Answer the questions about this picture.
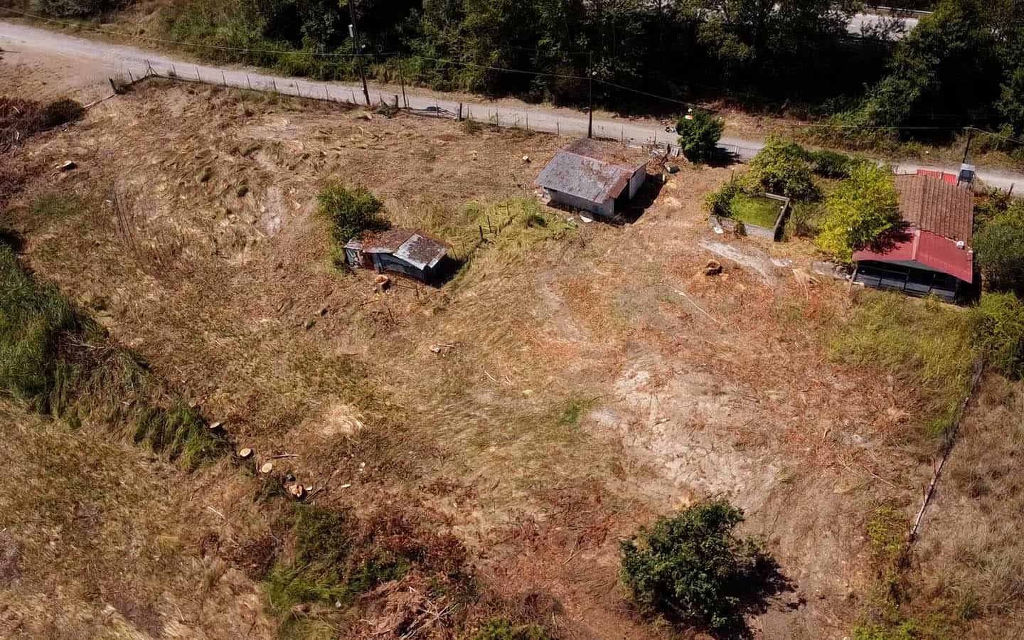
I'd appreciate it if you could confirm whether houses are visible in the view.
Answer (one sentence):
Yes, I can see a house in this picture.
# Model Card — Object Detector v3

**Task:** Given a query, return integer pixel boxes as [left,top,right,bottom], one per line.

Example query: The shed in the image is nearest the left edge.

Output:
[342,227,449,282]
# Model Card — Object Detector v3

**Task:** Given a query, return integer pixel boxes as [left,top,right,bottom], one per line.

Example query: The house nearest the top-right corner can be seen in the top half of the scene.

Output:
[852,166,976,307]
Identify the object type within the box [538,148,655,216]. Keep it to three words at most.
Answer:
shed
